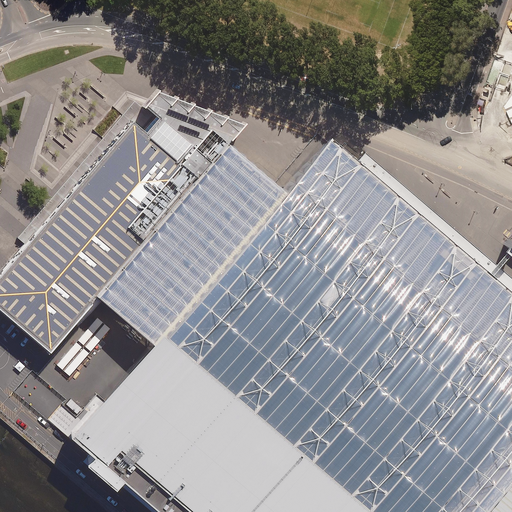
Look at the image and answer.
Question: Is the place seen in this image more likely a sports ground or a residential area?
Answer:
sports ground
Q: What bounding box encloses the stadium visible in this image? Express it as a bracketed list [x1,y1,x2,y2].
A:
[48,138,512,512]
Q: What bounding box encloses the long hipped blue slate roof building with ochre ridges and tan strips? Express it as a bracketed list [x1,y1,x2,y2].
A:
[0,122,232,354]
